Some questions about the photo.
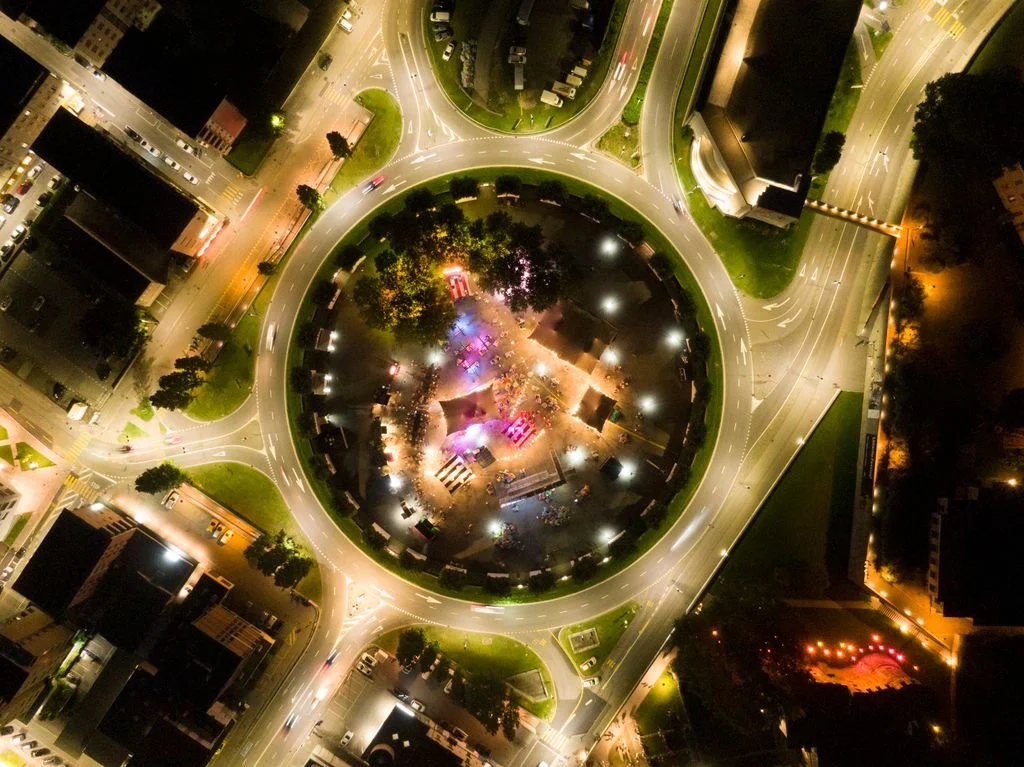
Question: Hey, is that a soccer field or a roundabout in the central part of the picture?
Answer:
roundabout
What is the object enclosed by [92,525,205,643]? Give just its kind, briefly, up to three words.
building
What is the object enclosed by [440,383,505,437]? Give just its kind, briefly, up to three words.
tent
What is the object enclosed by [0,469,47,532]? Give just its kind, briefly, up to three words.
house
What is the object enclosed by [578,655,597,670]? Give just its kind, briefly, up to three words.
car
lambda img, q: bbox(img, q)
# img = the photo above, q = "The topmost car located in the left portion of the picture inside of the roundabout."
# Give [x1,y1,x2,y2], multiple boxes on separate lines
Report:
[365,177,382,192]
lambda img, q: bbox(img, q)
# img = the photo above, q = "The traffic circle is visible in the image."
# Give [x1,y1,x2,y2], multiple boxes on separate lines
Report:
[257,137,753,633]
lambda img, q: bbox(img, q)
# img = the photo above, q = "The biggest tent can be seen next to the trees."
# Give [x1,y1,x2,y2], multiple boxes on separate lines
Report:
[523,302,618,378]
